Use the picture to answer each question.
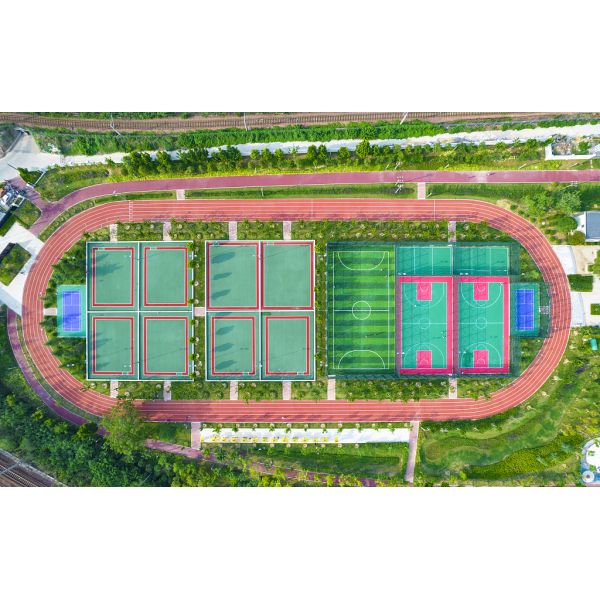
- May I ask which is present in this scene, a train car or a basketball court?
basketball court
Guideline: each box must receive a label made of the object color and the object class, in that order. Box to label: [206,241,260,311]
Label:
green sports court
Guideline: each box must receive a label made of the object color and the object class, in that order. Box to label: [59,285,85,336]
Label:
blue sports court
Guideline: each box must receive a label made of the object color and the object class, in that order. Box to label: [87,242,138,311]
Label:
green sports court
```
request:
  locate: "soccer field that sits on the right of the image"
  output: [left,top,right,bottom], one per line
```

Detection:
[329,246,394,375]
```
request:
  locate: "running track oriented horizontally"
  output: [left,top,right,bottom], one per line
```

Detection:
[21,199,572,422]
